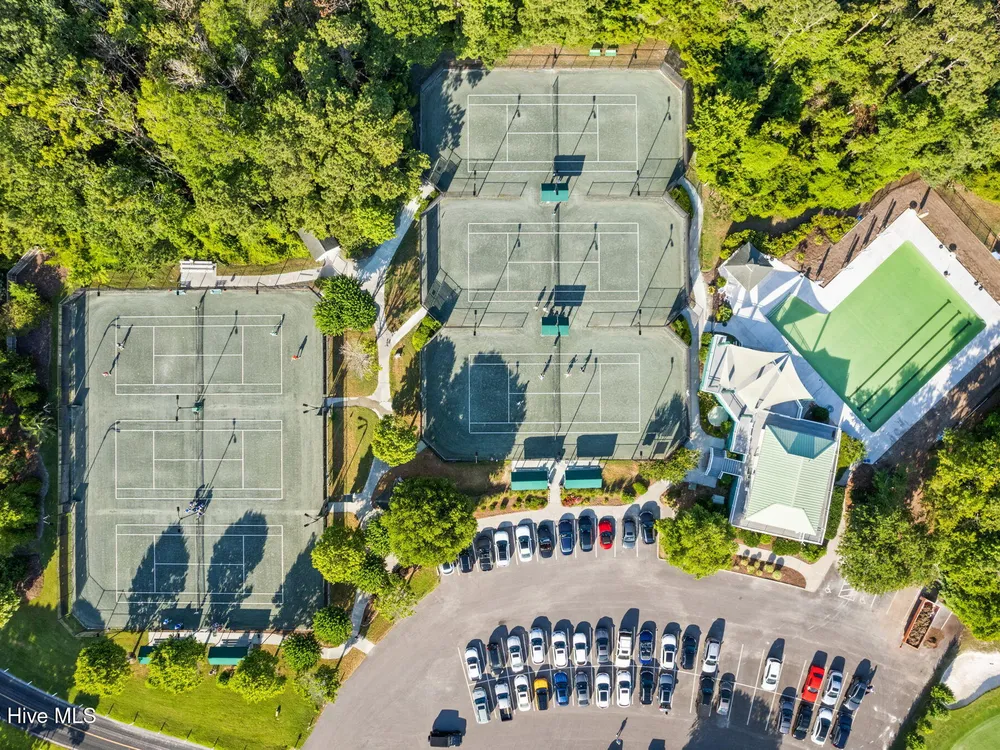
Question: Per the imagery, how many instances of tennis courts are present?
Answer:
6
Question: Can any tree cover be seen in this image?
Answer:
Yes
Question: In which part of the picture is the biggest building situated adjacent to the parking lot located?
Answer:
right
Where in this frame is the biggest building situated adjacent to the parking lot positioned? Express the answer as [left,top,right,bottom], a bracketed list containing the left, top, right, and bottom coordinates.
[695,335,840,544]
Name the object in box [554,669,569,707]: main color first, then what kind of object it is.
blue car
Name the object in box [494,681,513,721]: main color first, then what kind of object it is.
white vehicle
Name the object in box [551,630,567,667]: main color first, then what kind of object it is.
white car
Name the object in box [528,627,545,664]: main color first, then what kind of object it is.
white car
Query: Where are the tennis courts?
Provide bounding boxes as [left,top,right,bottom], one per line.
[74,289,326,407]
[74,512,326,630]
[422,196,689,326]
[422,68,685,196]
[74,407,326,512]
[422,327,690,460]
